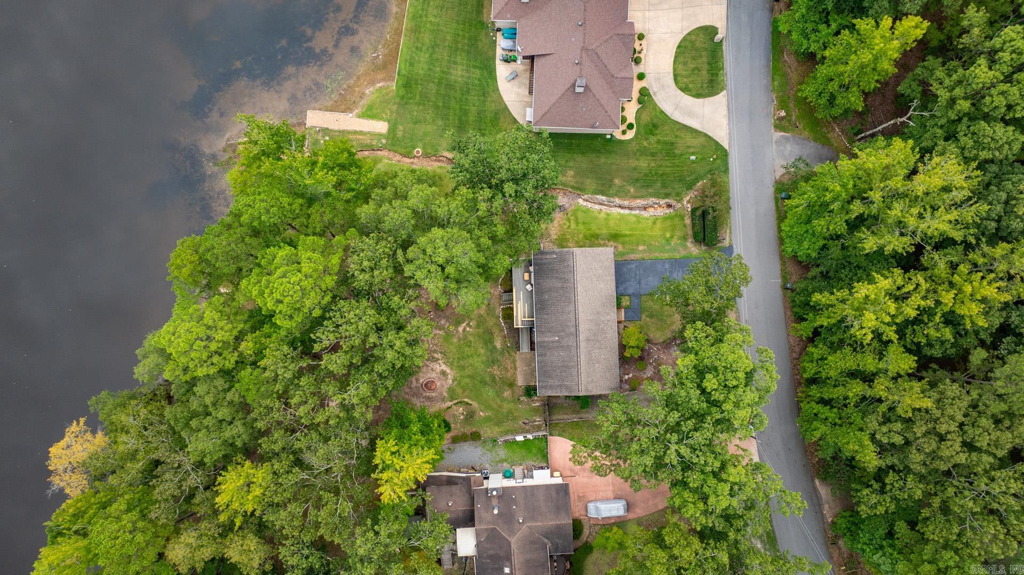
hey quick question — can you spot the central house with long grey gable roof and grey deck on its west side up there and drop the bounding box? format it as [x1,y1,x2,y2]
[517,247,620,396]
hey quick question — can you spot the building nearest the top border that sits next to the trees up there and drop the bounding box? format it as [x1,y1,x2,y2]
[492,0,635,135]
